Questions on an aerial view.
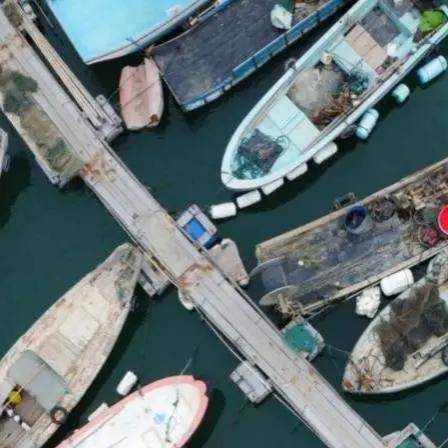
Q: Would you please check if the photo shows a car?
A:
No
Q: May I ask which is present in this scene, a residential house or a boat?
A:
boat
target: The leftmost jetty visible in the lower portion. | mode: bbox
[140,255,173,297]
